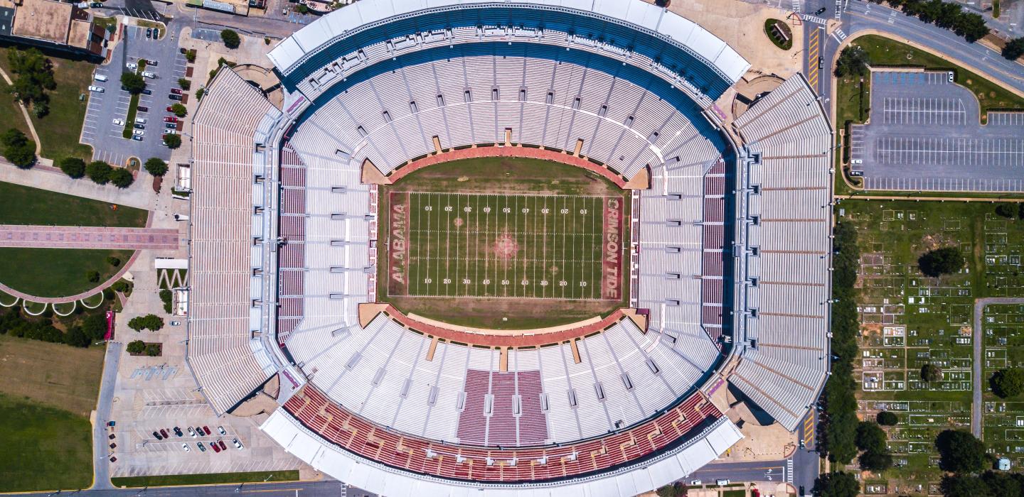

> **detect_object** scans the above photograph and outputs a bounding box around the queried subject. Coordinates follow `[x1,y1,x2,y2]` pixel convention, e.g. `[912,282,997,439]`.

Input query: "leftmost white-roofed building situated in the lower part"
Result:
[171,286,187,316]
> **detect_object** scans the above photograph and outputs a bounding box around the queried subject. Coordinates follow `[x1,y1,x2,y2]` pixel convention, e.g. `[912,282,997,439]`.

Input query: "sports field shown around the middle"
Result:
[378,156,631,331]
